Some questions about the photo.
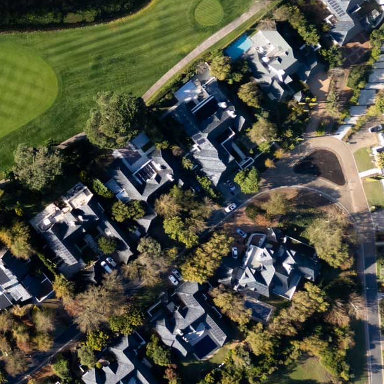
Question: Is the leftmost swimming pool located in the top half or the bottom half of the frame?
bottom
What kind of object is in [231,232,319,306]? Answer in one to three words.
house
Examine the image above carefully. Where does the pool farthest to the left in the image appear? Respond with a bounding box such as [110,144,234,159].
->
[193,339,216,361]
